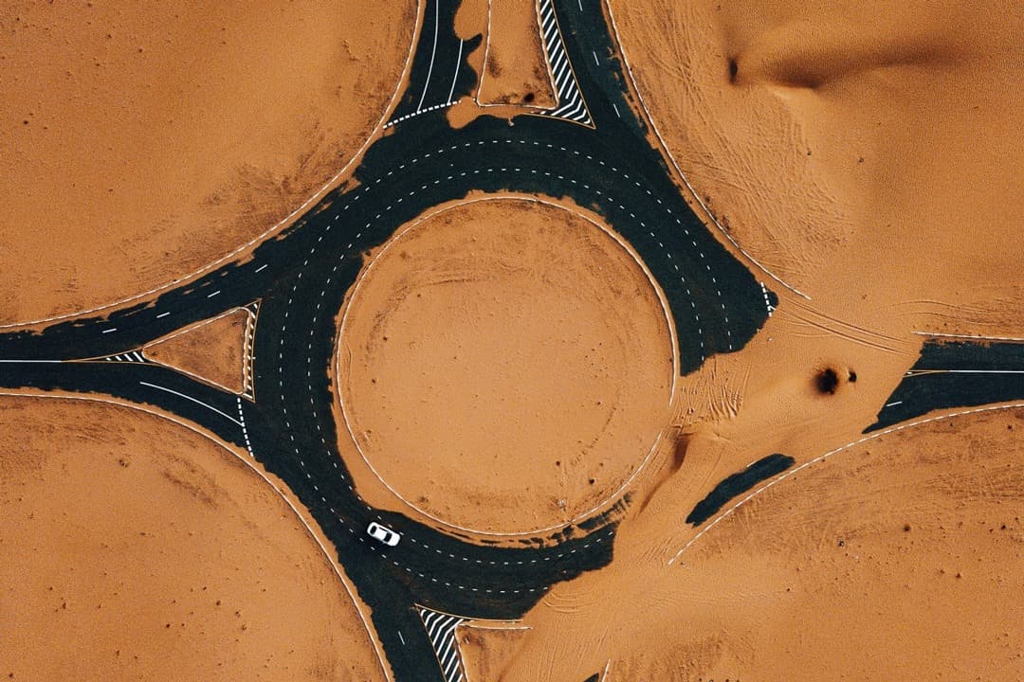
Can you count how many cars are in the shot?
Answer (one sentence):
In total, there is 1 car in the scene.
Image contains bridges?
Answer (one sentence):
No, there isn't any bridge down there.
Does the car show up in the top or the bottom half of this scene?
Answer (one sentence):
You can find the car in the bottom half.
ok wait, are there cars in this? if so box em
[367,522,400,546]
